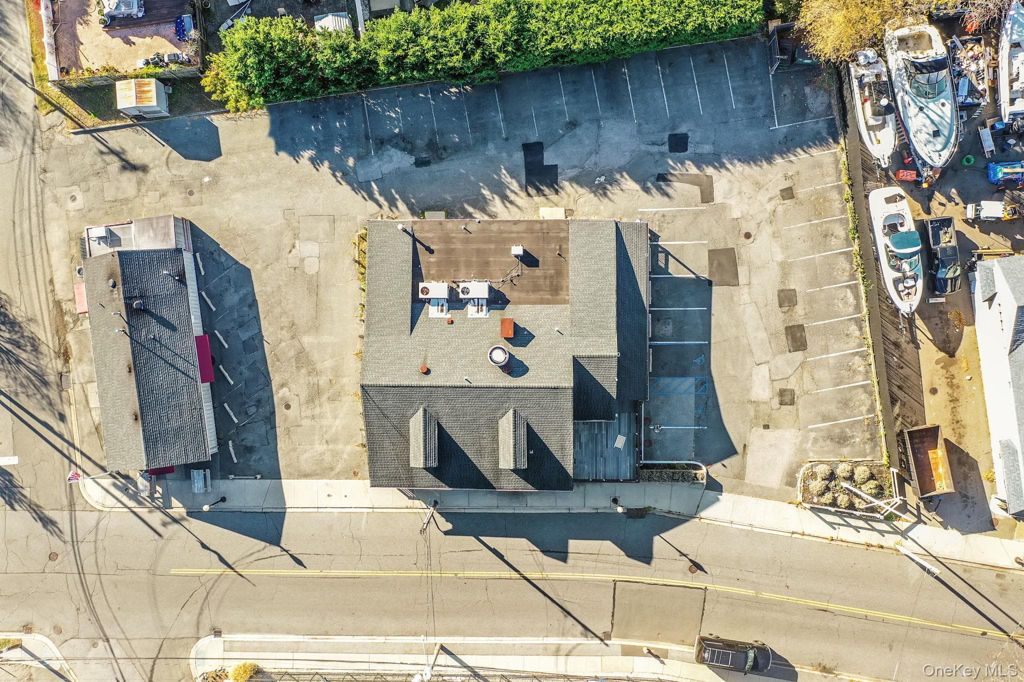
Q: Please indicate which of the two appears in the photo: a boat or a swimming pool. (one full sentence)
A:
Of the two, only a boat appears.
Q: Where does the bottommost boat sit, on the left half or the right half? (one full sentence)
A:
The bottommost boat sits on the right side.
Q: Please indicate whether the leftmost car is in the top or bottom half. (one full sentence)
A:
It is in the bottom half that the leftmost car appears.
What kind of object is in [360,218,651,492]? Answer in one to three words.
building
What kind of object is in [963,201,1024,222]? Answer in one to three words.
work vehicle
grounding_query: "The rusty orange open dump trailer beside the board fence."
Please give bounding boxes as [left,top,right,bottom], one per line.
[896,423,954,513]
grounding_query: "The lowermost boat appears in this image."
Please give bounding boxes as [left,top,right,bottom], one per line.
[868,187,925,330]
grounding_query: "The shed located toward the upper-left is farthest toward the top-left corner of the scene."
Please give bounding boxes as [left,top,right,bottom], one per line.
[116,78,170,118]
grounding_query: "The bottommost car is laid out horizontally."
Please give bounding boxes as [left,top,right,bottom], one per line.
[691,634,772,674]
